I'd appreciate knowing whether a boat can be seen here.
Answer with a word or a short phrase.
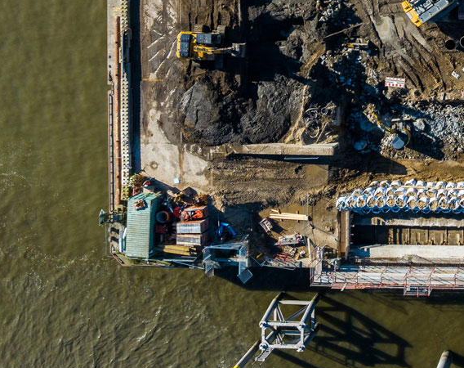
No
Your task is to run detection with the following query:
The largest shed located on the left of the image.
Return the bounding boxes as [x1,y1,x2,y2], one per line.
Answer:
[124,191,165,258]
